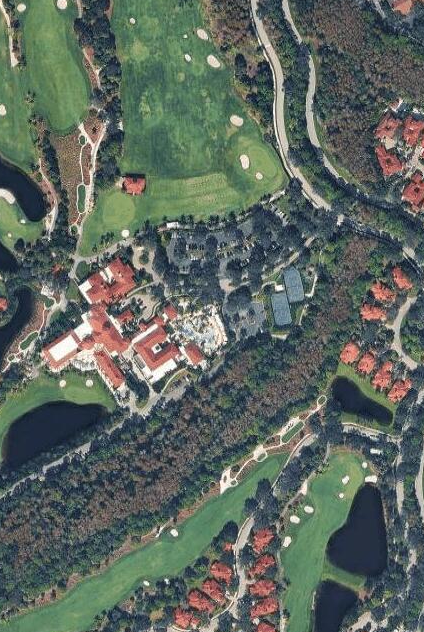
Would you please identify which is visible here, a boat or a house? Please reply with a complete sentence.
Of the two, only a house appears.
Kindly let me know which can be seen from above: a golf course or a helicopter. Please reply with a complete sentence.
Of the two, only a golf course appears.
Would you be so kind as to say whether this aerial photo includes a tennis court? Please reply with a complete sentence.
Yes, there's a tennis court down there.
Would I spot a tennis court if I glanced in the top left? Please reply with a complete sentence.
No, there is no tennis court in the top left.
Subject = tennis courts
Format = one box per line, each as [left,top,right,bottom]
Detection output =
[284,267,304,303]
[272,293,292,325]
